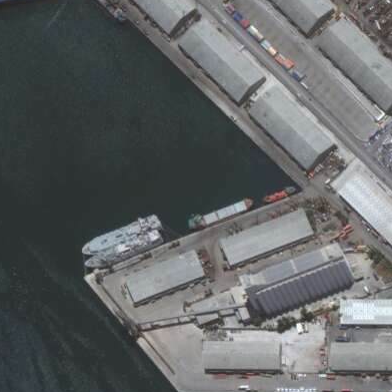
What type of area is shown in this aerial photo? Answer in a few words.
port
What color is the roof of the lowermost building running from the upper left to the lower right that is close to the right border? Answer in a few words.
white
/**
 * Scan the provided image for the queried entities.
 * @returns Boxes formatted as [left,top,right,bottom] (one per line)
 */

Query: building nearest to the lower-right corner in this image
[327,341,392,373]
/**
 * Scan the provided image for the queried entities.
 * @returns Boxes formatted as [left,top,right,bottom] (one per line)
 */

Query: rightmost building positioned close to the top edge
[313,18,392,115]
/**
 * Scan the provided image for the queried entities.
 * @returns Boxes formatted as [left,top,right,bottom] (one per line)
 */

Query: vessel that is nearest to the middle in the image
[189,197,253,231]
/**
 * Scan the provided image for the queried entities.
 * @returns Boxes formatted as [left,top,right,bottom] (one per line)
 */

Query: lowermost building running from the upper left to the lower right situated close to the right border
[329,158,392,245]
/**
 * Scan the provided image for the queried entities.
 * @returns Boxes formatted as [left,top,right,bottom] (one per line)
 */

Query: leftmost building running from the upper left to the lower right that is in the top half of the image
[177,19,268,108]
